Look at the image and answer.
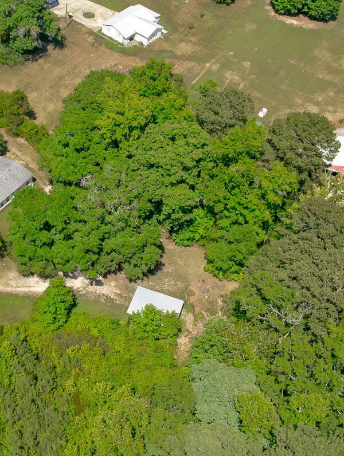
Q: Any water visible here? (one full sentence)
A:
No, the scene doesn't show any water.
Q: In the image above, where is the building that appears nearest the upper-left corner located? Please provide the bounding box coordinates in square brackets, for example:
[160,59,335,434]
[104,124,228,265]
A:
[92,6,165,52]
